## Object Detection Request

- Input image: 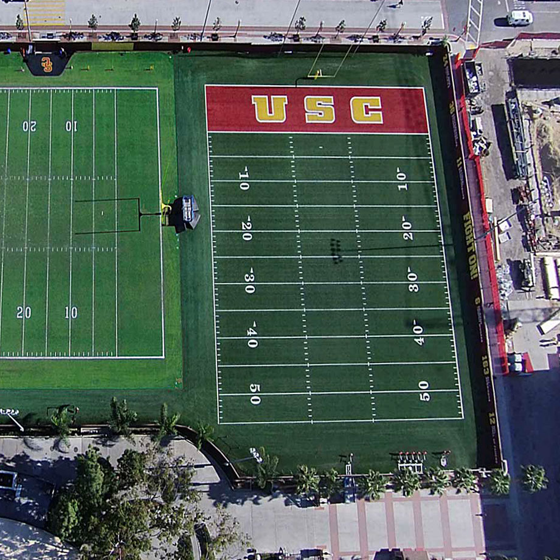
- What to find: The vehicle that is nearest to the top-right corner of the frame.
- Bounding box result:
[505,11,531,26]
